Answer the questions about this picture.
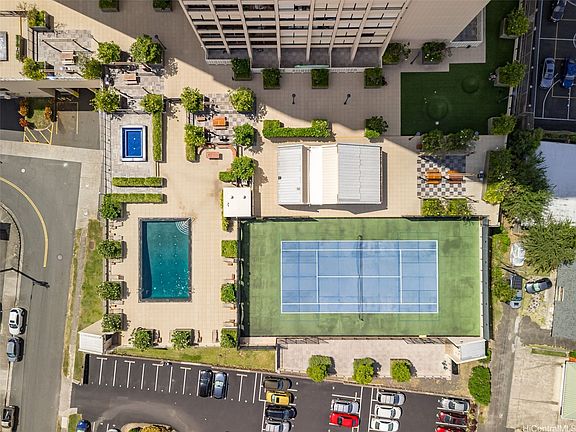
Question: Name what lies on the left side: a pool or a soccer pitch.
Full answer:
The feature located on the left side is a pool.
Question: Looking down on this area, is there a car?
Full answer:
Yes, the picture does show a car.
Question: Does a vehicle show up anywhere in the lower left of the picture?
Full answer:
Yes, a vehicle is visible in the lower left of the picture.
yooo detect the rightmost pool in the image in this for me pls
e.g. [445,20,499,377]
[139,218,193,301]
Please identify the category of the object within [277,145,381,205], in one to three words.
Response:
building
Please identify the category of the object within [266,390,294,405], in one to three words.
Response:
car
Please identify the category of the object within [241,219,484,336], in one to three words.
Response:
tennis court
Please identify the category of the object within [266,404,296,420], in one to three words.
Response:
car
